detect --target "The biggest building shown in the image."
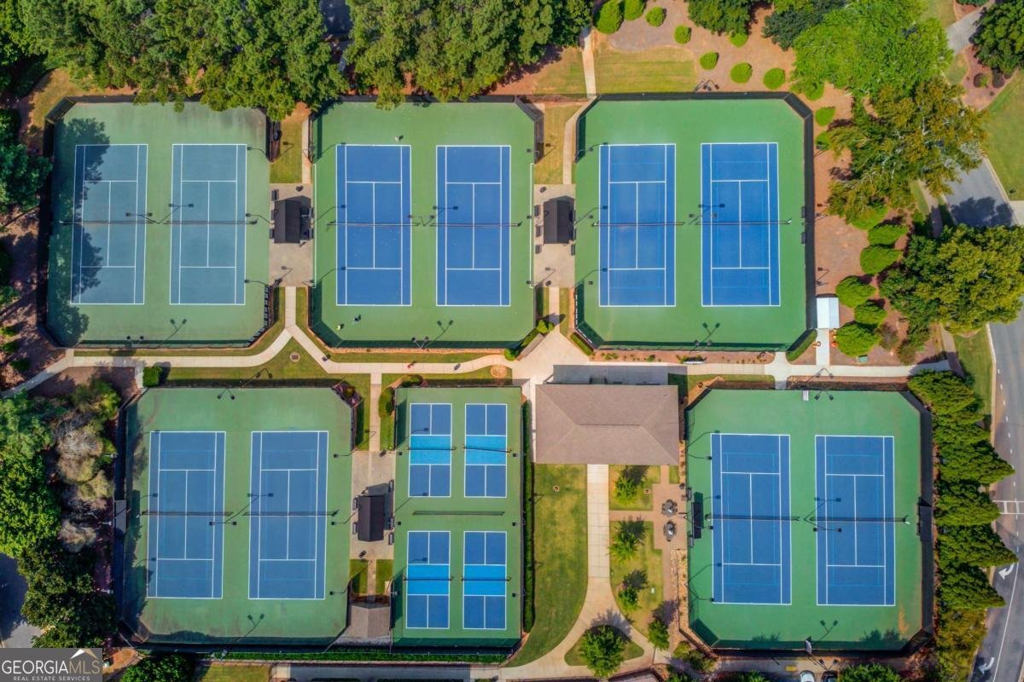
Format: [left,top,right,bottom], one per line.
[535,385,680,465]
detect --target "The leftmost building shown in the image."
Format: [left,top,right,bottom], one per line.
[274,198,302,243]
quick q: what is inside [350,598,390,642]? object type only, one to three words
shed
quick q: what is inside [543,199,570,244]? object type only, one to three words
building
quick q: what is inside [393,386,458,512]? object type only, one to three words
sports court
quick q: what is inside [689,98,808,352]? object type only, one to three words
tennis court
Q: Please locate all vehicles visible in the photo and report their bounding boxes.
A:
[823,673,839,682]
[801,672,817,682]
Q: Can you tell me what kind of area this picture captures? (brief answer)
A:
sports ground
